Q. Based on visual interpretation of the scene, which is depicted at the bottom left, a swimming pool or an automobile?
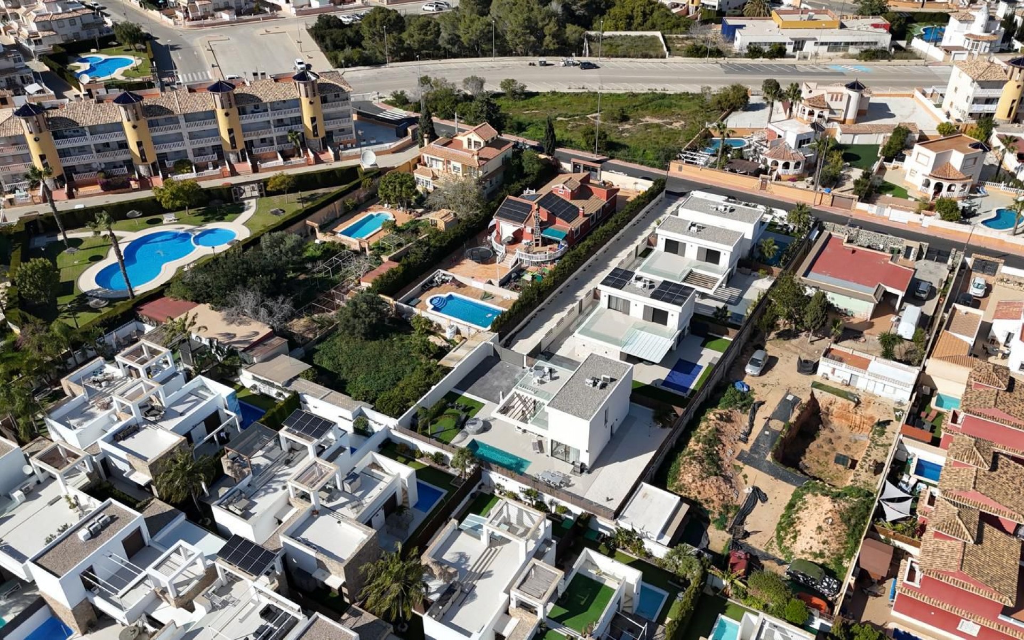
swimming pool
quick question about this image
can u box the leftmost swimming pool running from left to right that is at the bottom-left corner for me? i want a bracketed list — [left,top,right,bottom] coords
[22,617,77,640]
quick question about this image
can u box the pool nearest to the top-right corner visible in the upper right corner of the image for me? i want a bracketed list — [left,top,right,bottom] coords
[921,27,943,42]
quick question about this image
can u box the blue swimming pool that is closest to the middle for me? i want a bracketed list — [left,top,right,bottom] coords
[427,291,507,328]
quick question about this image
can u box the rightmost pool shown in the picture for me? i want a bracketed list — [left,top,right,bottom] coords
[977,206,1024,231]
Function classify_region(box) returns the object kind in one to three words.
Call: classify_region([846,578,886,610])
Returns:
umbrella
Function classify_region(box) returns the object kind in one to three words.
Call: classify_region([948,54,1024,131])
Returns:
building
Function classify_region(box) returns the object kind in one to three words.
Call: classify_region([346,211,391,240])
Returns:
swimming pool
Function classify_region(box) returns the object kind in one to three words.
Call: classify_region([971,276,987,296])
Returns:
car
